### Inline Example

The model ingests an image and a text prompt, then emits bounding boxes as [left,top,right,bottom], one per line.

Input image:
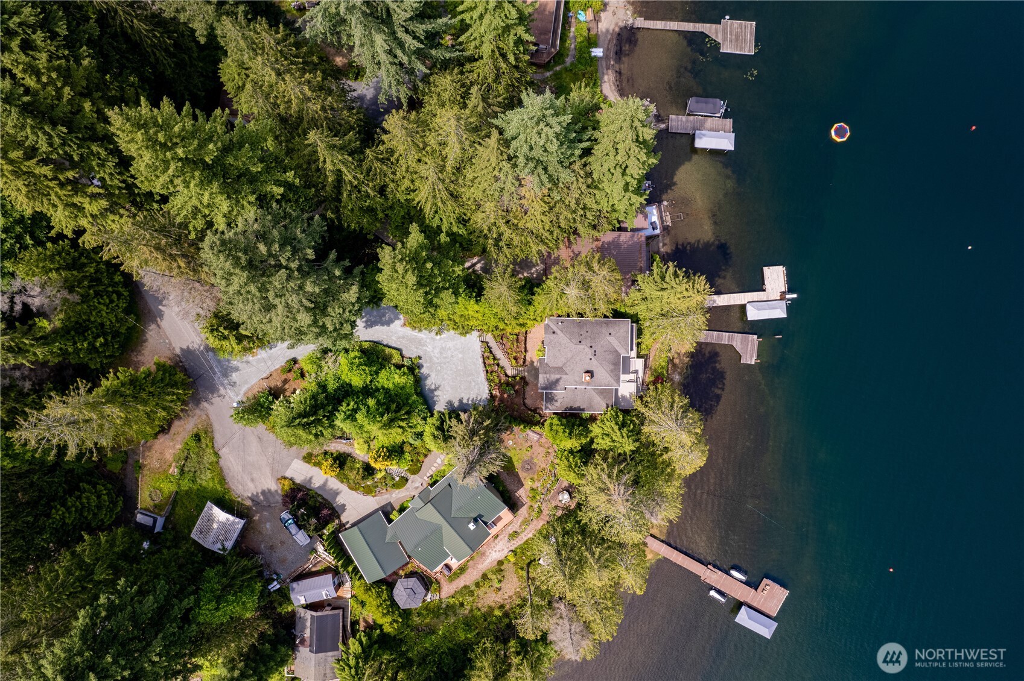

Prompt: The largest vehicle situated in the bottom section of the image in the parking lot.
[278,512,309,549]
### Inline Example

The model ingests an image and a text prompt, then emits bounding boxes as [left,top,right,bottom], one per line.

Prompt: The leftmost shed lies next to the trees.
[134,510,167,533]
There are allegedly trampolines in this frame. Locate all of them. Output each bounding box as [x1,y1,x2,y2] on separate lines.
[830,123,848,141]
